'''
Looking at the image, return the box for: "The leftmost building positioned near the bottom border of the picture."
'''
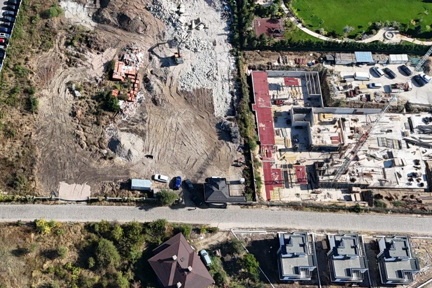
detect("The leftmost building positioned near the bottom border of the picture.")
[148,233,214,288]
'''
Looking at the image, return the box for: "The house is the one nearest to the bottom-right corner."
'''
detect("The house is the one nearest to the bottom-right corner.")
[371,236,417,287]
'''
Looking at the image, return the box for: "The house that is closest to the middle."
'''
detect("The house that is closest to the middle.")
[204,178,245,204]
